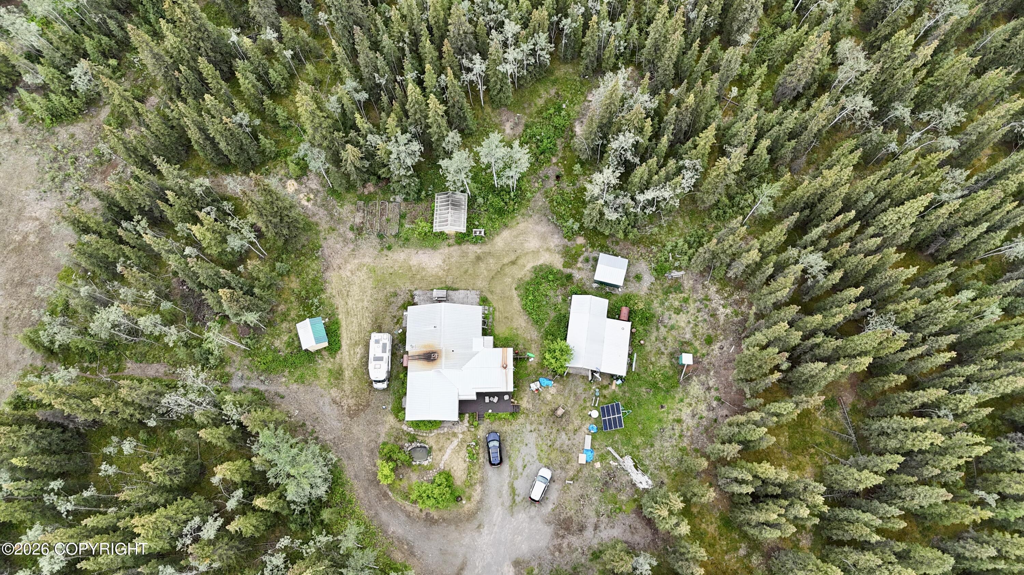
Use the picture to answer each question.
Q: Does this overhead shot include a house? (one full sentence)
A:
Yes, there's a house here.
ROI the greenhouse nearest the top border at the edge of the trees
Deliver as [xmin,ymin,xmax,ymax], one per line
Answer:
[434,190,467,242]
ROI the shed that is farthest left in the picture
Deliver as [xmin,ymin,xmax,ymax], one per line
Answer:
[296,316,330,354]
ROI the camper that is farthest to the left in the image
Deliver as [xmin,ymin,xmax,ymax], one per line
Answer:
[370,332,394,391]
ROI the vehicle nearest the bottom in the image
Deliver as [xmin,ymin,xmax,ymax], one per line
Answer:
[529,467,551,505]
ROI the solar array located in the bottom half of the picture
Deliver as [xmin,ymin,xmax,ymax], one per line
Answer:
[600,400,632,432]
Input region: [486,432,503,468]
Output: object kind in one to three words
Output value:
car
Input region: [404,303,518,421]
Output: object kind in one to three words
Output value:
house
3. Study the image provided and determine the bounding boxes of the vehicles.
[529,467,551,505]
[486,432,503,468]
[370,332,394,391]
